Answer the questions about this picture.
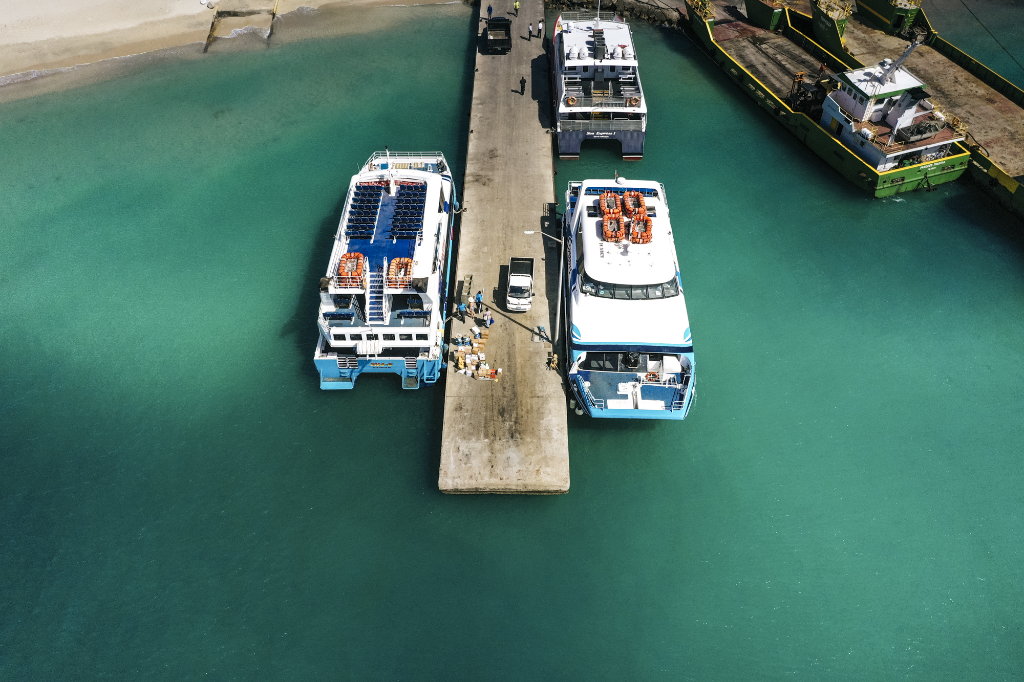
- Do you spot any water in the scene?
Yes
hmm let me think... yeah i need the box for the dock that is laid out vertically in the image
[439,0,569,497]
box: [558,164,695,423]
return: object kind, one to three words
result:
ship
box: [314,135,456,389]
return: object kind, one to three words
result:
ship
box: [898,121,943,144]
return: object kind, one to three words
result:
boat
